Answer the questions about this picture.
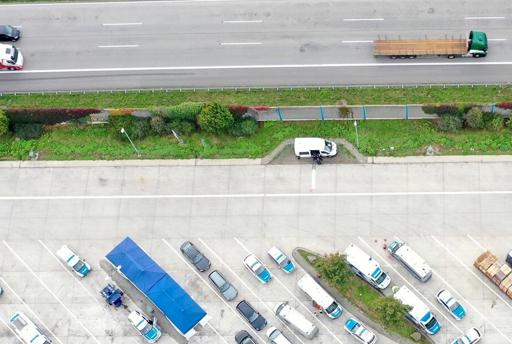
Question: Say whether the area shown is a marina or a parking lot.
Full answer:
It's a parking lot.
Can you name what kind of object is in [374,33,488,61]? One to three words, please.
truck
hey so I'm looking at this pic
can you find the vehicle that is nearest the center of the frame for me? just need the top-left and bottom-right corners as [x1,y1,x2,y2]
[294,139,337,157]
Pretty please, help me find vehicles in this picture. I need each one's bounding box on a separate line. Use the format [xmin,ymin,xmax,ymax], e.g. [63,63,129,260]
[242,253,275,287]
[55,244,93,278]
[266,325,293,344]
[267,245,298,276]
[179,240,212,274]
[388,241,433,286]
[128,310,162,344]
[393,285,440,335]
[344,318,380,344]
[453,327,482,344]
[235,298,269,333]
[8,311,55,344]
[0,25,22,43]
[374,33,488,61]
[435,288,468,322]
[274,301,321,343]
[296,272,344,321]
[0,44,28,71]
[294,139,337,157]
[235,329,258,344]
[342,244,392,290]
[207,269,240,304]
